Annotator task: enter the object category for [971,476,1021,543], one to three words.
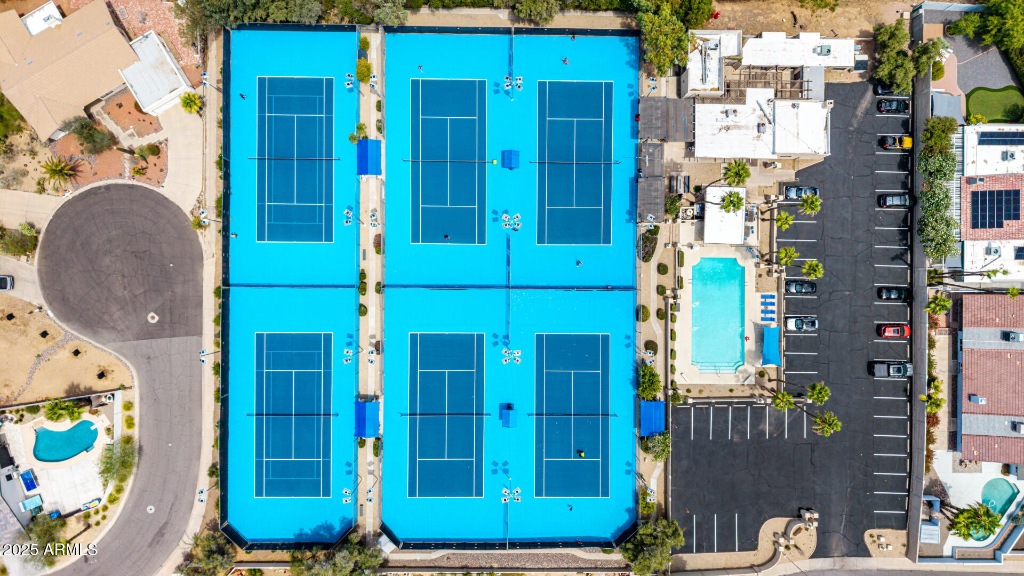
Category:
swimming pool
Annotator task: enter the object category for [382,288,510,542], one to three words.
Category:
tennis court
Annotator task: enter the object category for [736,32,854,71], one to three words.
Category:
building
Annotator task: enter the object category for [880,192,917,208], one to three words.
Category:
car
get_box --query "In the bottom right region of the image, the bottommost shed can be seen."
[920,520,940,544]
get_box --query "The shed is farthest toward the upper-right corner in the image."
[924,23,943,45]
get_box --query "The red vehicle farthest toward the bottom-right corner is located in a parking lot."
[880,324,913,339]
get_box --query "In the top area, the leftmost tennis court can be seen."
[229,30,360,287]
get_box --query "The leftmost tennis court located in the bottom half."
[228,286,359,543]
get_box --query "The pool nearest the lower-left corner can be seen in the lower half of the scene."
[31,418,99,463]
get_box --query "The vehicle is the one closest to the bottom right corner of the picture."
[872,362,914,378]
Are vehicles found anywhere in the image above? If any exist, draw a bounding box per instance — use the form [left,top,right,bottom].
[787,184,821,199]
[0,276,13,290]
[880,192,917,208]
[872,362,914,378]
[880,324,913,339]
[879,97,912,113]
[877,82,912,96]
[879,285,914,301]
[787,280,820,295]
[787,316,821,332]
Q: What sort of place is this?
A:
sports ground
